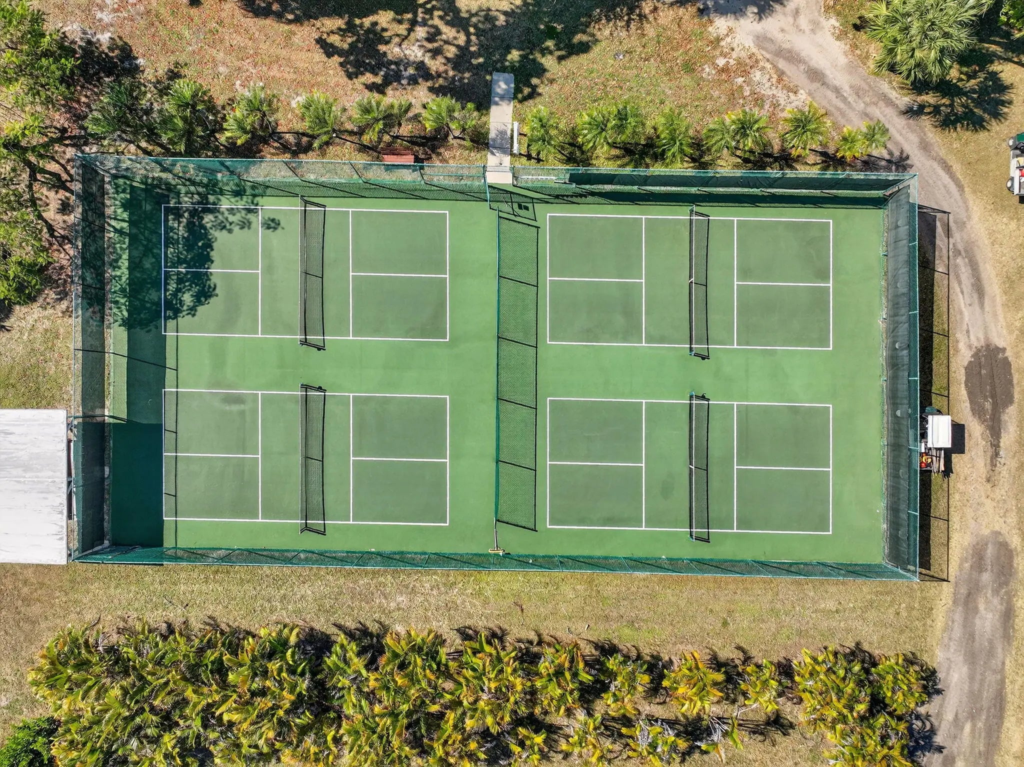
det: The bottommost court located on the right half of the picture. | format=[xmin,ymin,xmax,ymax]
[548,398,832,534]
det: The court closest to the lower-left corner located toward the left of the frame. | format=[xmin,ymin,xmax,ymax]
[163,389,449,526]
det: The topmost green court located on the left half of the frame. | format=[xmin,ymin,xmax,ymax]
[162,205,449,341]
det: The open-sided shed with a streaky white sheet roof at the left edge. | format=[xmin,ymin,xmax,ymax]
[0,408,82,565]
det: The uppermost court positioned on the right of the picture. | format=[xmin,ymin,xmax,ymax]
[548,214,832,349]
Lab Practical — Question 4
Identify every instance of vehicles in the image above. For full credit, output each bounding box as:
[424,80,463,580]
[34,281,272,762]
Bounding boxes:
[909,405,951,471]
[1006,133,1024,197]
